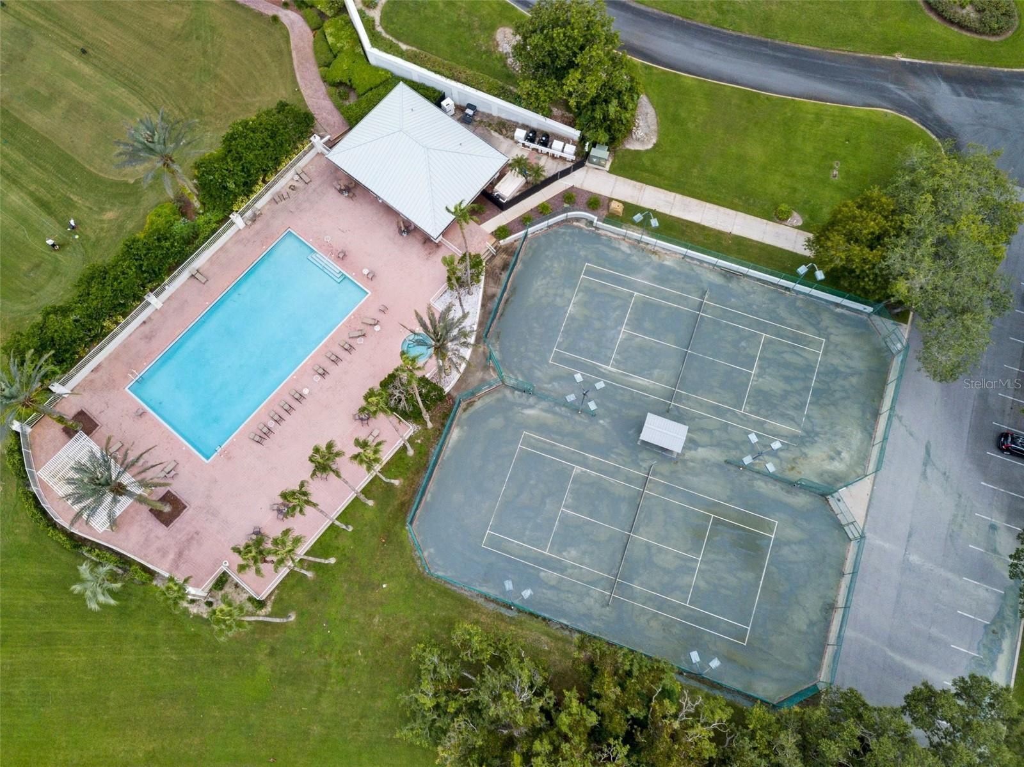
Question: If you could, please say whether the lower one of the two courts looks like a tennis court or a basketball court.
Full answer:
Looking closely, the lower one of the two courts is a tennis court.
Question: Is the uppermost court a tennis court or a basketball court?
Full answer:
It looks like the uppermost court is a tennis court.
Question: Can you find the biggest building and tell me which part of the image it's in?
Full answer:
The biggest building is located in the top region of the scene.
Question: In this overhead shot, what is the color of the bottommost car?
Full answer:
In this view, the bottommost car is black.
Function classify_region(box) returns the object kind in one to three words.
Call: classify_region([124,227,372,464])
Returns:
swimming pool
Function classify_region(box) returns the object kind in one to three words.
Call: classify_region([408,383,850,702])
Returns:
tennis court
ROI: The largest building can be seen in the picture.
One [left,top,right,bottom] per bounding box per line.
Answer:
[325,82,511,248]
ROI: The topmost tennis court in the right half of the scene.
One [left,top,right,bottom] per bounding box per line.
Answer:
[487,219,893,495]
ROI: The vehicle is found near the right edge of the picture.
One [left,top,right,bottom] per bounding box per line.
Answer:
[997,434,1024,463]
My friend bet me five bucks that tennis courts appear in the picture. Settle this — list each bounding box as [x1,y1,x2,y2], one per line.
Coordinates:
[487,219,893,495]
[408,383,850,702]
